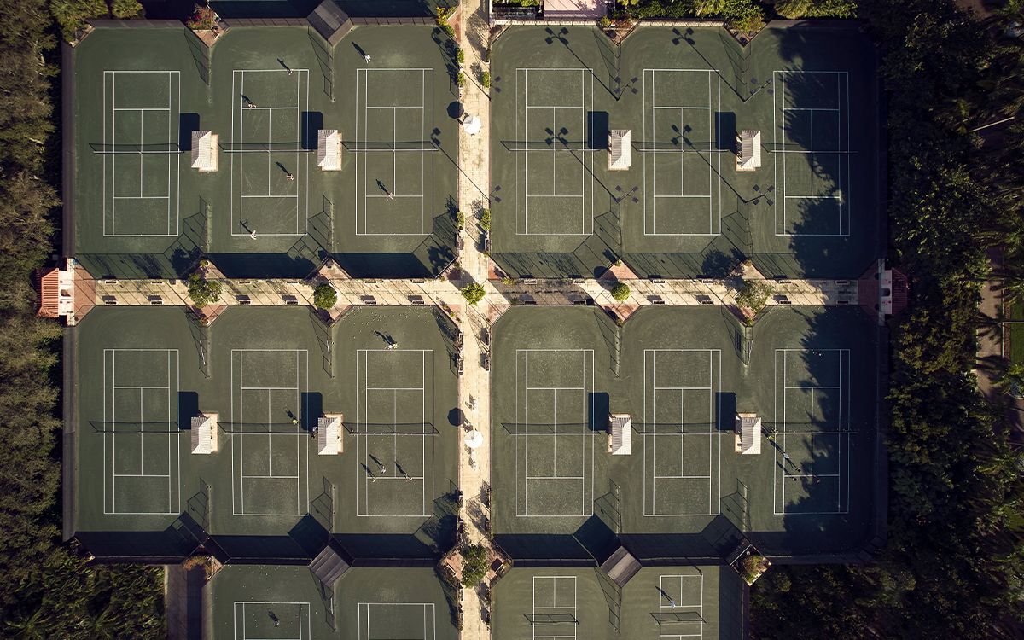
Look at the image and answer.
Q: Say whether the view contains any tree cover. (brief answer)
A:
Yes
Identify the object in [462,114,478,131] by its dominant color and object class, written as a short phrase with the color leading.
white umbrella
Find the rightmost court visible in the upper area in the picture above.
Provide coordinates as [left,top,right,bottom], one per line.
[747,26,877,279]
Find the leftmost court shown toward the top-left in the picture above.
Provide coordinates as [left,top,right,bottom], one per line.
[75,26,208,278]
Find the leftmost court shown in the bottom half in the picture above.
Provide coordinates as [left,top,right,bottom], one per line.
[75,306,208,558]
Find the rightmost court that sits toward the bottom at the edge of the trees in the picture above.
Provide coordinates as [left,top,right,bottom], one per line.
[747,306,877,558]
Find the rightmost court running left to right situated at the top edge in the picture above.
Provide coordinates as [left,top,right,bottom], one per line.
[332,0,458,21]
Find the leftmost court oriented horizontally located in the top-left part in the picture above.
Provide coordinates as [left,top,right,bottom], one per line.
[212,0,321,24]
